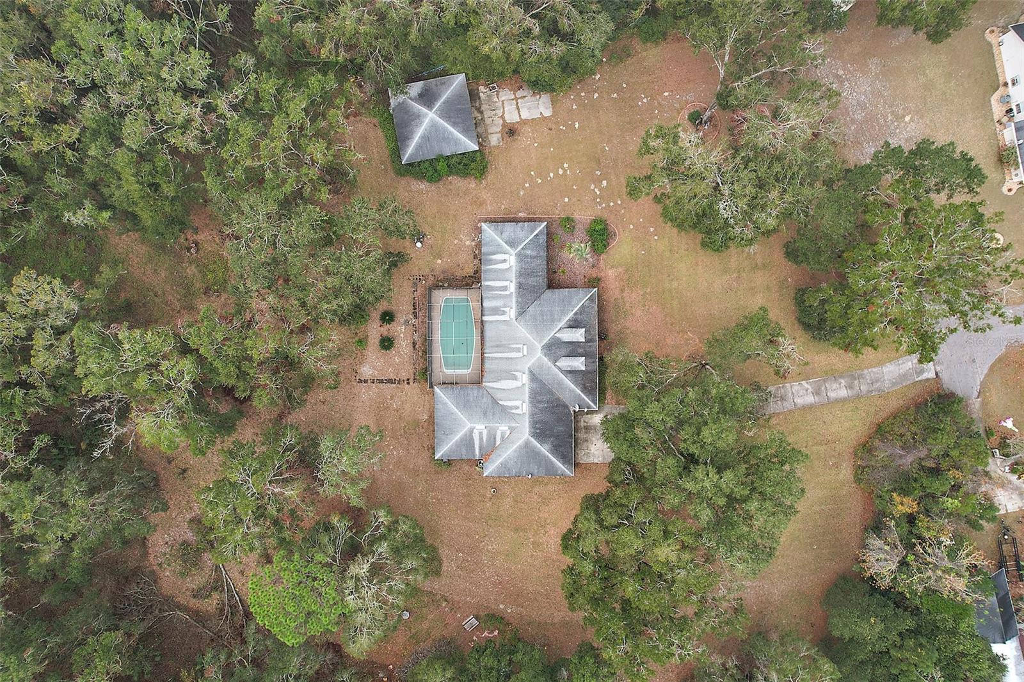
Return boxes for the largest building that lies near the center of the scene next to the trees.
[435,222,599,477]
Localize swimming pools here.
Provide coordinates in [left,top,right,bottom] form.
[437,293,476,375]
